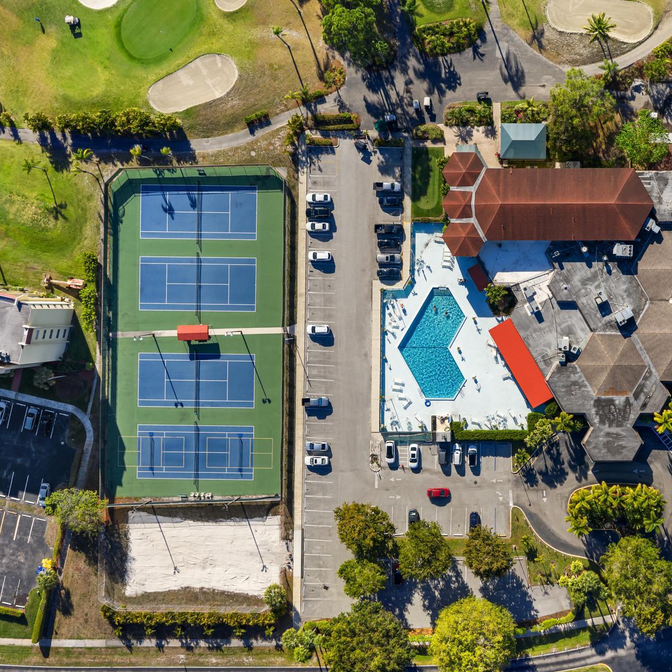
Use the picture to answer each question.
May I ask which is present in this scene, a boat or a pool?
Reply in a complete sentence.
I can see a pool in this picture.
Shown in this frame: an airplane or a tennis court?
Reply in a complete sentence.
The one in the frame is a tennis court.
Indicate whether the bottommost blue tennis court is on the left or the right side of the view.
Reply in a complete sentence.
The bottommost blue tennis court appears in the left half of the scene.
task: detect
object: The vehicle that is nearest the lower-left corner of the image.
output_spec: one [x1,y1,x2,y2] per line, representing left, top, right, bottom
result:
[35,483,50,507]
